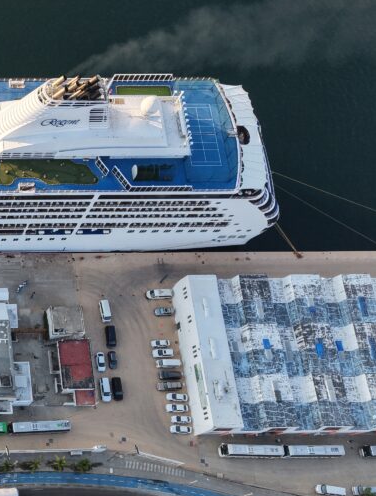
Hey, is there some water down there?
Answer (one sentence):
Yes, water can be seen from above here.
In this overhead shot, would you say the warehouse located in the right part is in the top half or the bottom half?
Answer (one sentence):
Seen from above, the warehouse located in the right part lies in the bottom half of the view.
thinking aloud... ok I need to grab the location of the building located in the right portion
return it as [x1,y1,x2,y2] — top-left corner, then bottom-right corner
[174,274,376,437]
